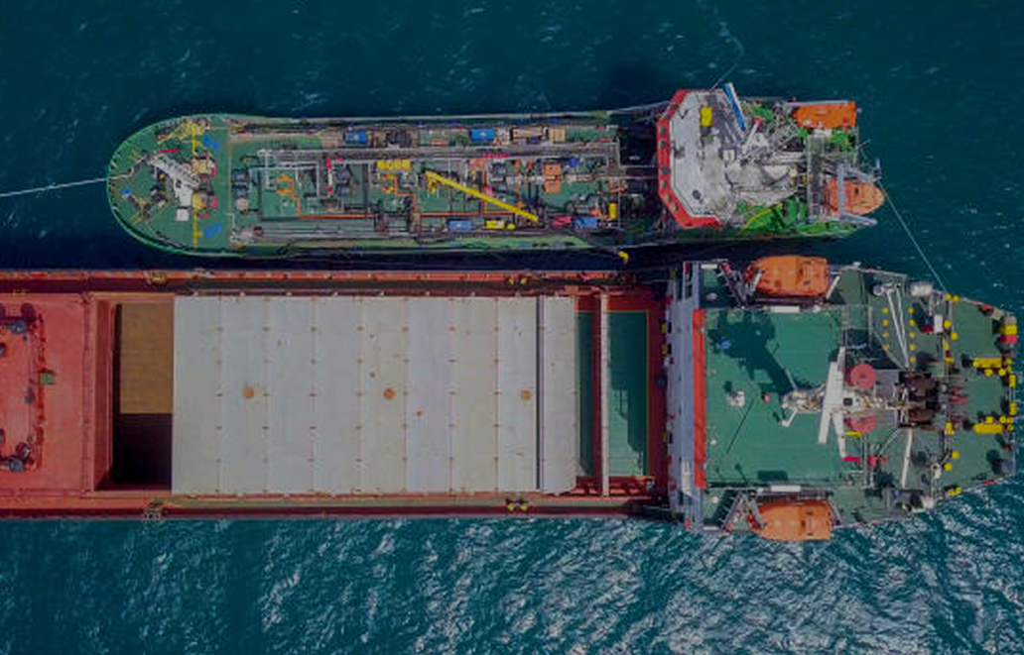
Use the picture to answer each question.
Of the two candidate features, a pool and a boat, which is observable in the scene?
boat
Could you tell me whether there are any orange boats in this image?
Yes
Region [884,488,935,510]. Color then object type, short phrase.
gray boat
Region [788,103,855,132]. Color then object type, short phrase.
orange boat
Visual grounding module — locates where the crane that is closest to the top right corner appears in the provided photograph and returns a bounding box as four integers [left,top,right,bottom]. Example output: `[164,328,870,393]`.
[866,283,911,365]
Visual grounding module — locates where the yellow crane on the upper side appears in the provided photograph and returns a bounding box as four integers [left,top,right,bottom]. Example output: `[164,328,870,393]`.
[423,172,538,222]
